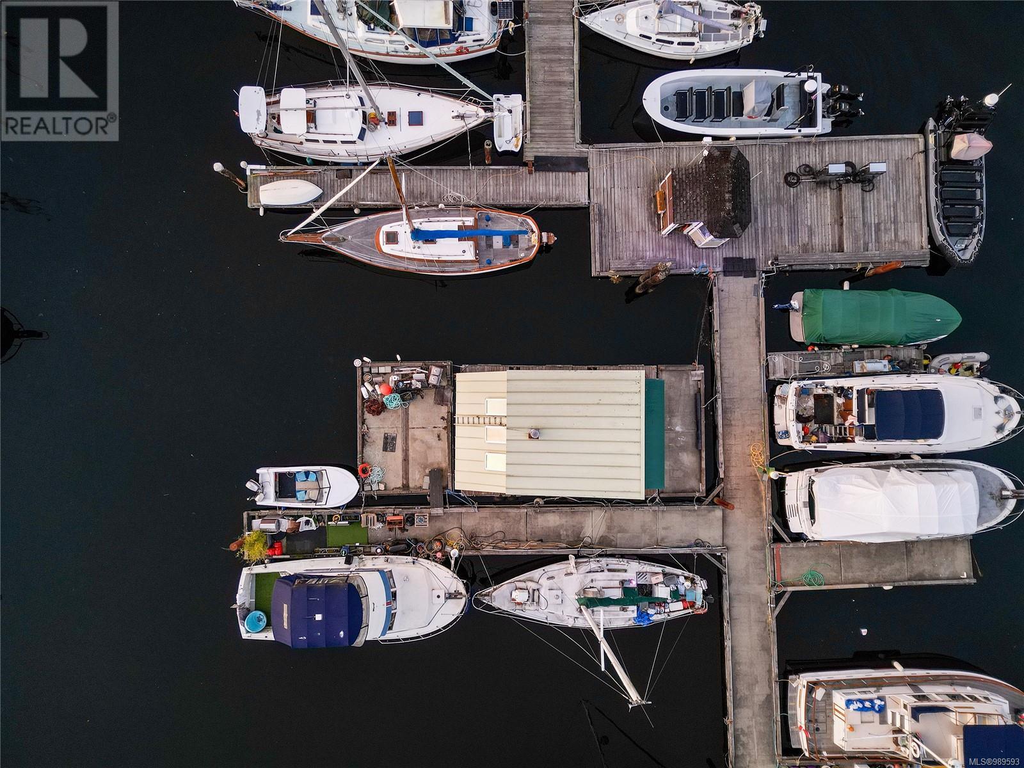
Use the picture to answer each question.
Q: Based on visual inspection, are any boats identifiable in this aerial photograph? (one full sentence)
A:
Yes, I can see a boat in this picture.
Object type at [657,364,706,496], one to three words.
pier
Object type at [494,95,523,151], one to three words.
boat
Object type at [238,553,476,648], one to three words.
boat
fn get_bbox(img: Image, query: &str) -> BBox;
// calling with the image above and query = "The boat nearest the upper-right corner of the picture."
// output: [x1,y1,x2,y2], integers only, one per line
[907,83,1012,267]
